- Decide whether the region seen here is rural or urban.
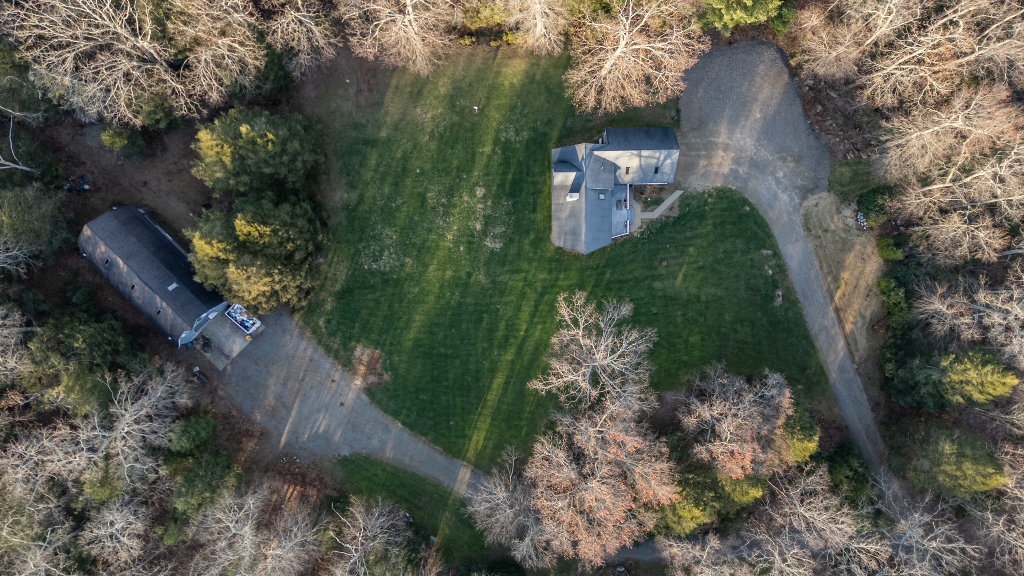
rural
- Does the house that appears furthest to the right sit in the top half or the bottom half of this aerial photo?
top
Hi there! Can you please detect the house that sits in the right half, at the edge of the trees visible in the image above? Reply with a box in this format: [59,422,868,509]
[551,127,680,255]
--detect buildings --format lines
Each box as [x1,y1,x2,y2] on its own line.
[551,127,680,255]
[79,204,232,346]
